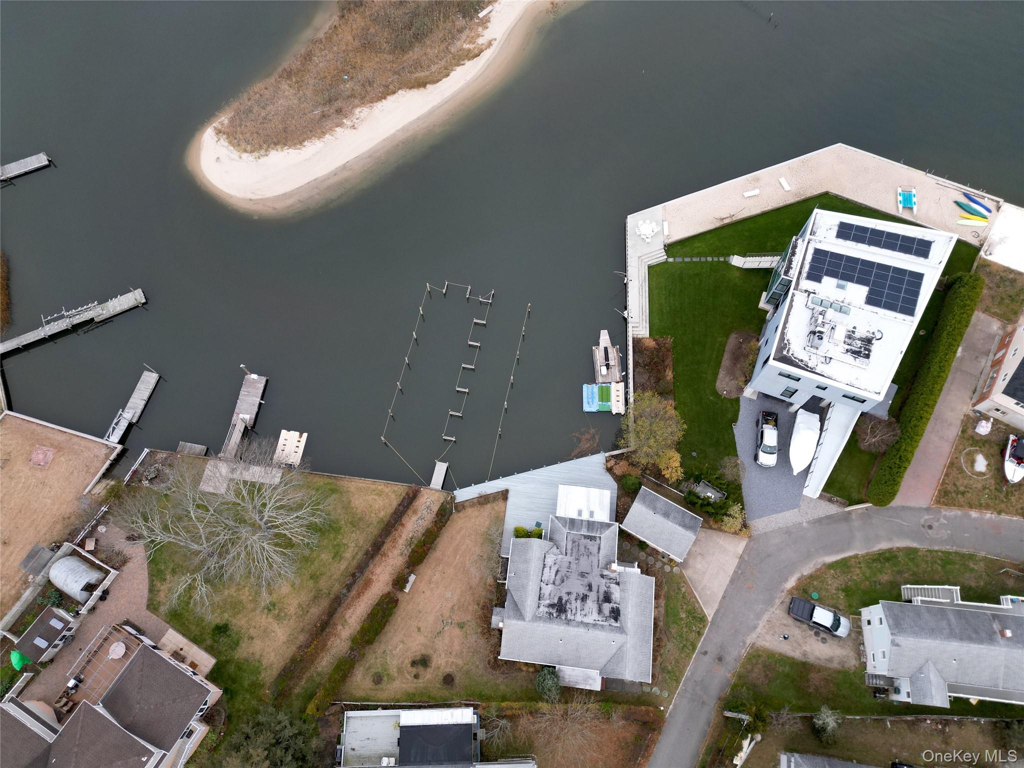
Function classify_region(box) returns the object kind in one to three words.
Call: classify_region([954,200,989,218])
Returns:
boat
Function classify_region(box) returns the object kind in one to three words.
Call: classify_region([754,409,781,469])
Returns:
truck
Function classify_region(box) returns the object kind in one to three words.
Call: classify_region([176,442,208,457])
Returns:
pier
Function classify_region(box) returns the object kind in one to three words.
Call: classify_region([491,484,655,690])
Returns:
house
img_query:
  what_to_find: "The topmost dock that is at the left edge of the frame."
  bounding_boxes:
[0,152,50,183]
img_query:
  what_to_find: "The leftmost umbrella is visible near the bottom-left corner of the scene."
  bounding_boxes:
[9,649,39,669]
